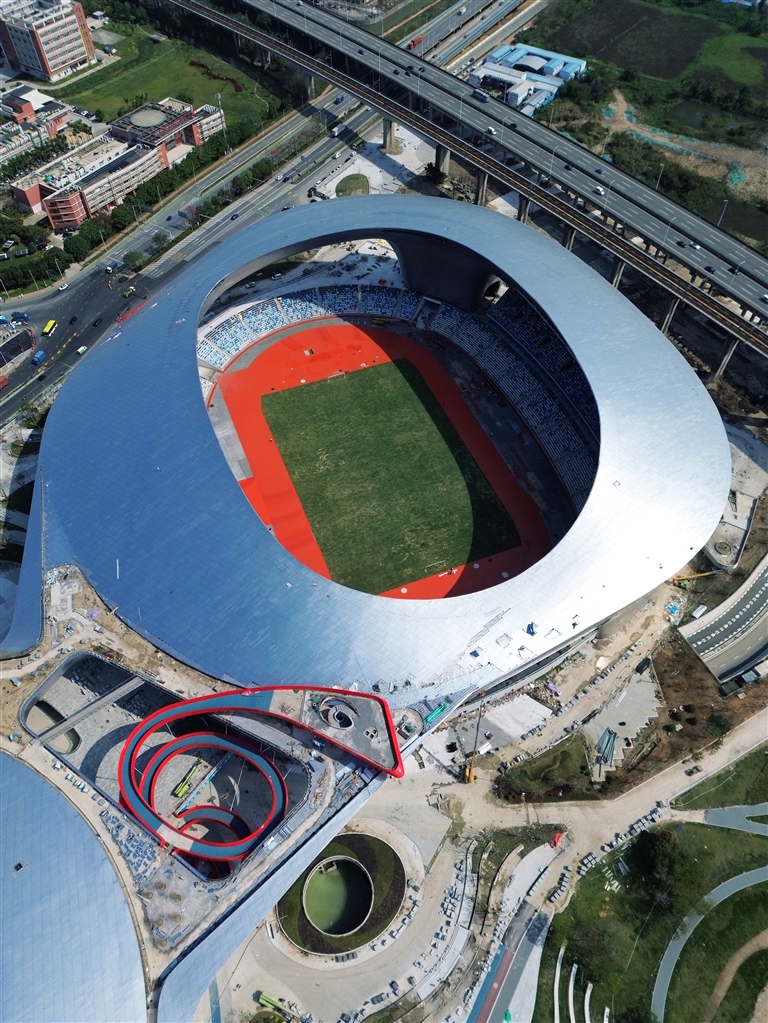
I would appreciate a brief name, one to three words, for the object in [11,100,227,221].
building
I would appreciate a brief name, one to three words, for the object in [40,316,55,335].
vehicle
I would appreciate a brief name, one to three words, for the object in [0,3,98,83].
building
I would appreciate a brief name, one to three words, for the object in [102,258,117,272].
vehicle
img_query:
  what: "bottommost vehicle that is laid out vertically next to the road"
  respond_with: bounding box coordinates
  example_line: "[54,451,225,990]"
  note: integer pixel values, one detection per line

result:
[463,700,482,785]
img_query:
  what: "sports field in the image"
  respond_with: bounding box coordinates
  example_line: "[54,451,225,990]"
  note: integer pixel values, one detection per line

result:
[262,359,521,595]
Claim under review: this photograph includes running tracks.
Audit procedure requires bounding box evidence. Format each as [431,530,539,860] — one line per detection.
[215,325,552,598]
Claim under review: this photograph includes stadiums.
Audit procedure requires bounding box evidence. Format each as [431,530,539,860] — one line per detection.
[43,195,732,739]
